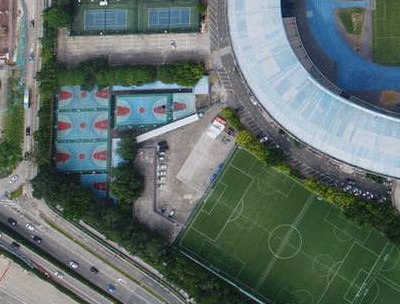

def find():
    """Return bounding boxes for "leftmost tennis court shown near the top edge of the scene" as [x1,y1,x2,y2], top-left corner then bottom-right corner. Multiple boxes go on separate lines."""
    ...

[85,8,128,30]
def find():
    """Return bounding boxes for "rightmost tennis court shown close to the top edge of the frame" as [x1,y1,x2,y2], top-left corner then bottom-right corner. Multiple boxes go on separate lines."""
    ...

[148,6,191,29]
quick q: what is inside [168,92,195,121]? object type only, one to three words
basketball court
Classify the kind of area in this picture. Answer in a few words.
sports ground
